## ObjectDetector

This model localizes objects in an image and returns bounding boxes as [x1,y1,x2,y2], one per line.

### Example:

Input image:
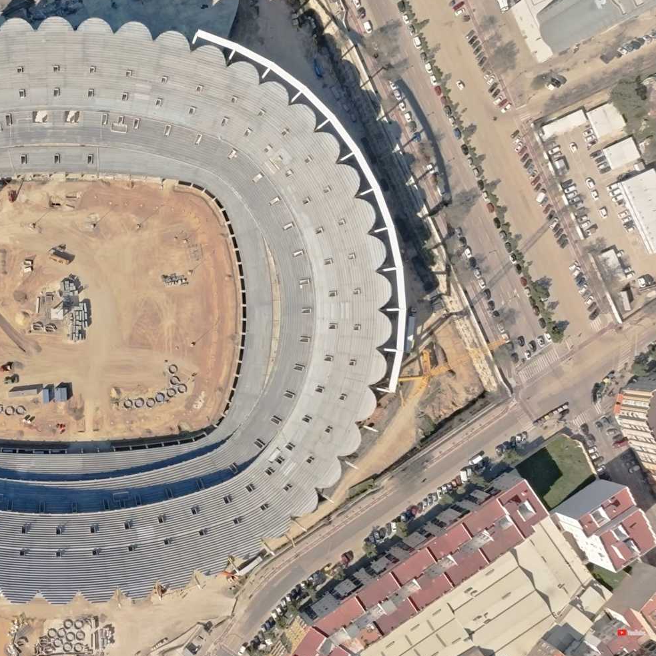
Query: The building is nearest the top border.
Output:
[526,0,656,57]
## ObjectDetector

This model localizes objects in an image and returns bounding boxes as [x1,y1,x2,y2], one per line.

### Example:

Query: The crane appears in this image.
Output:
[399,337,510,381]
